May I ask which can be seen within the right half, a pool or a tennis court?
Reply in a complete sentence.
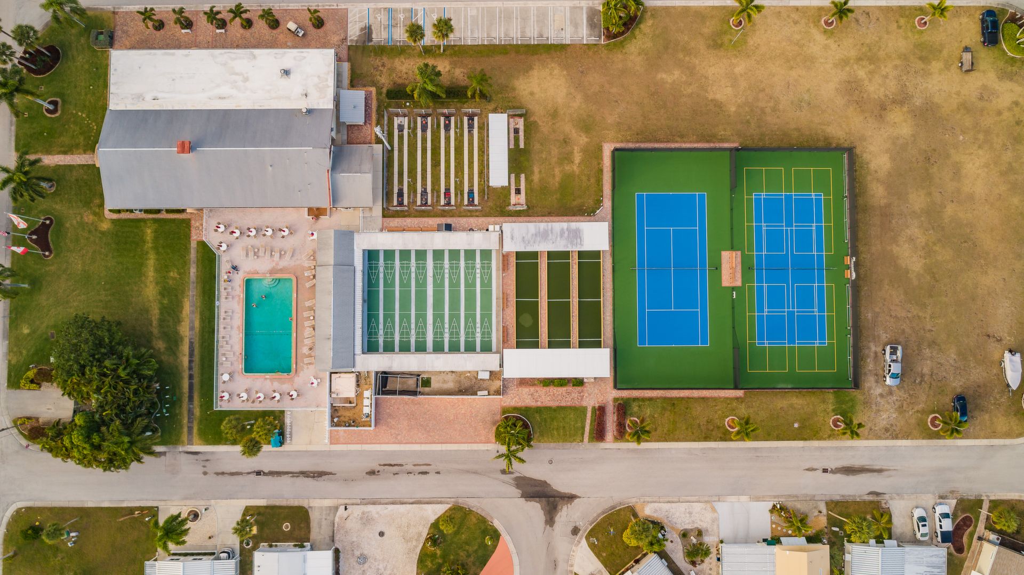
The feature located within the right half is a tennis court.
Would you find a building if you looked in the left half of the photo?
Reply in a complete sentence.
Yes, in the left half of the photo there is a building.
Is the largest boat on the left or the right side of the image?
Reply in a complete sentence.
The largest boat is on the right side of the image.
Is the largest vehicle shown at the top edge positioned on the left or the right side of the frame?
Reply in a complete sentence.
The largest vehicle shown at the top edge appears in the right half of the scene.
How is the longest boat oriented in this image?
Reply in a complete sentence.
I'd say the longest boat is aligned vertically in the picture.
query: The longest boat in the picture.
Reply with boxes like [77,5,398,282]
[1003,345,1023,389]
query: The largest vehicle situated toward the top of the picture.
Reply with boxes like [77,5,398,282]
[984,8,1004,46]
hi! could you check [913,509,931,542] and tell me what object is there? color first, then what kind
white car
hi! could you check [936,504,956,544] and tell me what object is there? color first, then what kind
white vehicle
